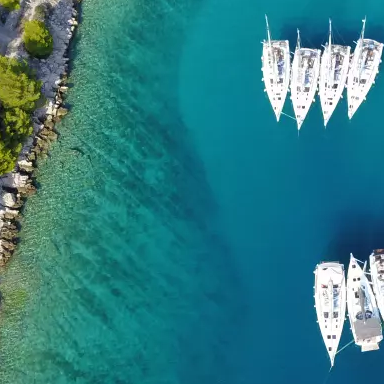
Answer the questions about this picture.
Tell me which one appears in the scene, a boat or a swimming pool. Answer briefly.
boat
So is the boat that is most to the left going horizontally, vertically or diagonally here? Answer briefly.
vertically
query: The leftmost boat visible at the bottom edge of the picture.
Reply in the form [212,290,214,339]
[314,255,346,384]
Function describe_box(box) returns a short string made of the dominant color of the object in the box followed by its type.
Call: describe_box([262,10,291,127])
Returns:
white boat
